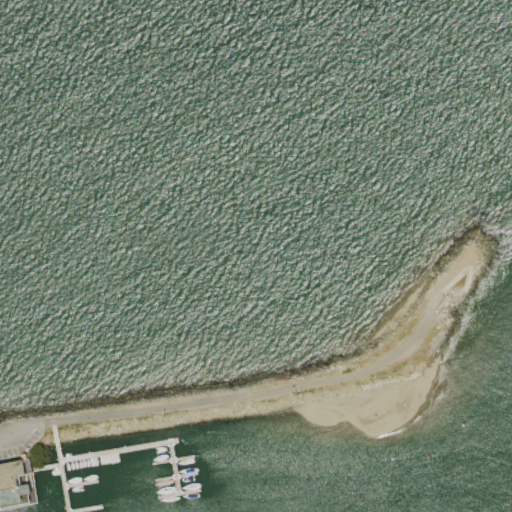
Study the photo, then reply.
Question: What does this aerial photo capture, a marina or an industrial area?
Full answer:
What you see here is a marina.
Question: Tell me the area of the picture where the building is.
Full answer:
The building is located in the bottom left region of the scene.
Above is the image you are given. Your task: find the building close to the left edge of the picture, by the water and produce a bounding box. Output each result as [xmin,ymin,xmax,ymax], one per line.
[0,451,37,511]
